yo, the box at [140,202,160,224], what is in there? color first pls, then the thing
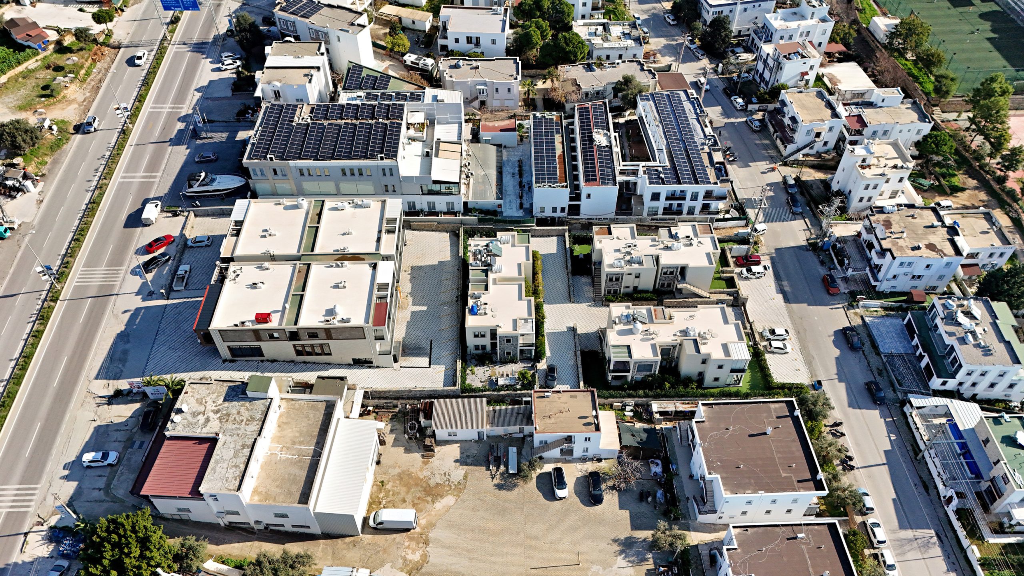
white vehicle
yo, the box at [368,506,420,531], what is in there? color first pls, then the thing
white vehicle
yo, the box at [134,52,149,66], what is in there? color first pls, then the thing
white car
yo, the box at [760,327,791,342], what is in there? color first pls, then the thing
white car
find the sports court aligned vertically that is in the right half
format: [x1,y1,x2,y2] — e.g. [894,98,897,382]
[989,110,1024,199]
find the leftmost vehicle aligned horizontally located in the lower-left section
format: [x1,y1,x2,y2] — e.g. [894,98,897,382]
[79,449,121,470]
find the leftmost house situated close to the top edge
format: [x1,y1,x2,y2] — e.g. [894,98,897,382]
[4,16,51,56]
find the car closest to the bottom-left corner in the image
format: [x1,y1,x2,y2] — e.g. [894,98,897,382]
[45,551,80,576]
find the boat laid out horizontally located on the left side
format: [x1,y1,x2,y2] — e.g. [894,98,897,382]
[172,164,246,191]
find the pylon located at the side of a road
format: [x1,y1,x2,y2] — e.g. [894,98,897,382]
[812,191,845,245]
